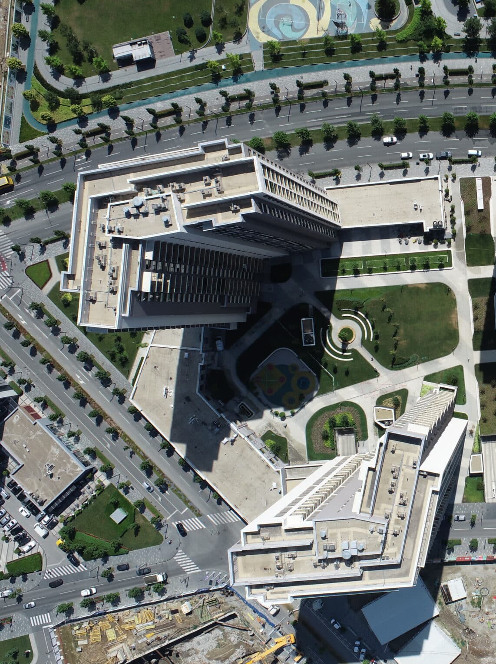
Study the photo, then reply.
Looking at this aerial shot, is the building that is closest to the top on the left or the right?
left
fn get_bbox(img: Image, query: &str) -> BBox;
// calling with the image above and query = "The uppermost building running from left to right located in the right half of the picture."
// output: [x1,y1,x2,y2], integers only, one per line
[325,176,447,233]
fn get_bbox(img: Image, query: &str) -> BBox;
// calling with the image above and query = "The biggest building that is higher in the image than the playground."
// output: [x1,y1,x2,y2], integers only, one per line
[61,139,343,335]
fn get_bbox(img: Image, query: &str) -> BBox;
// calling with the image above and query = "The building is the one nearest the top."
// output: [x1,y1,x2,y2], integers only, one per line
[113,30,175,69]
